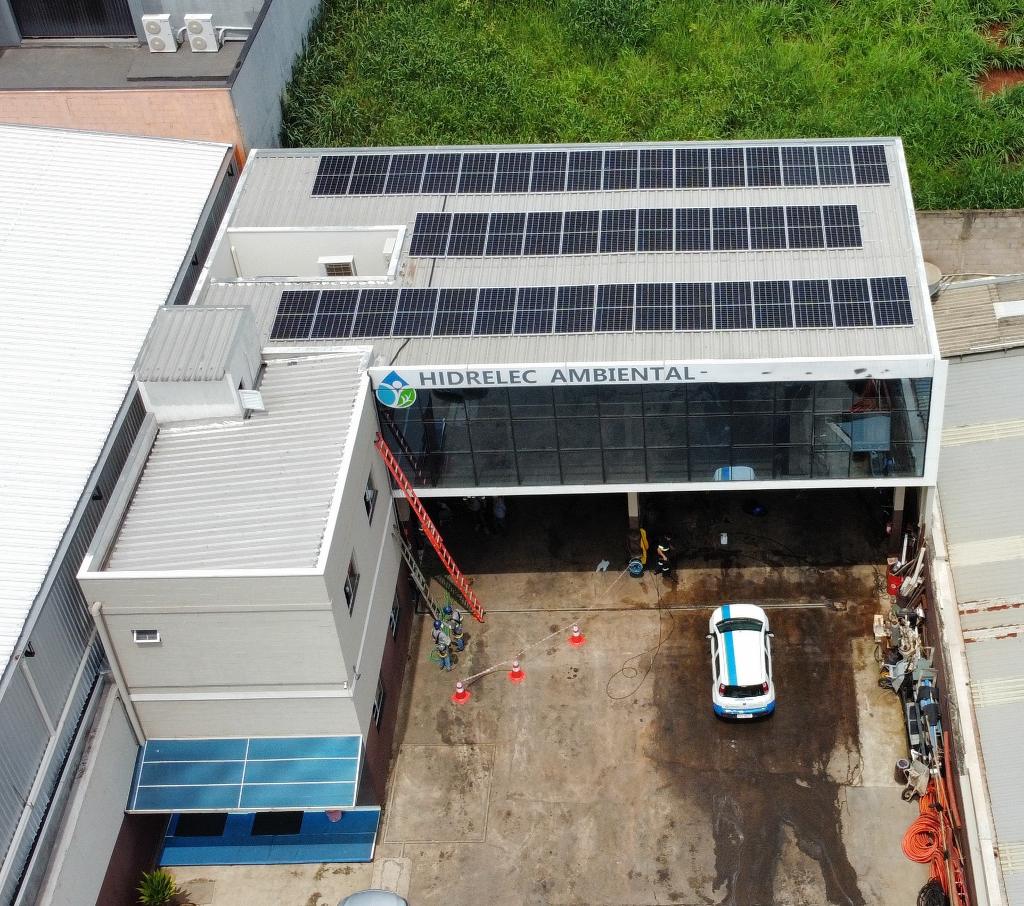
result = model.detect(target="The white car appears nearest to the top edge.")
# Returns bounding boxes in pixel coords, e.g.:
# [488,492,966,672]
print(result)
[703,612,777,725]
